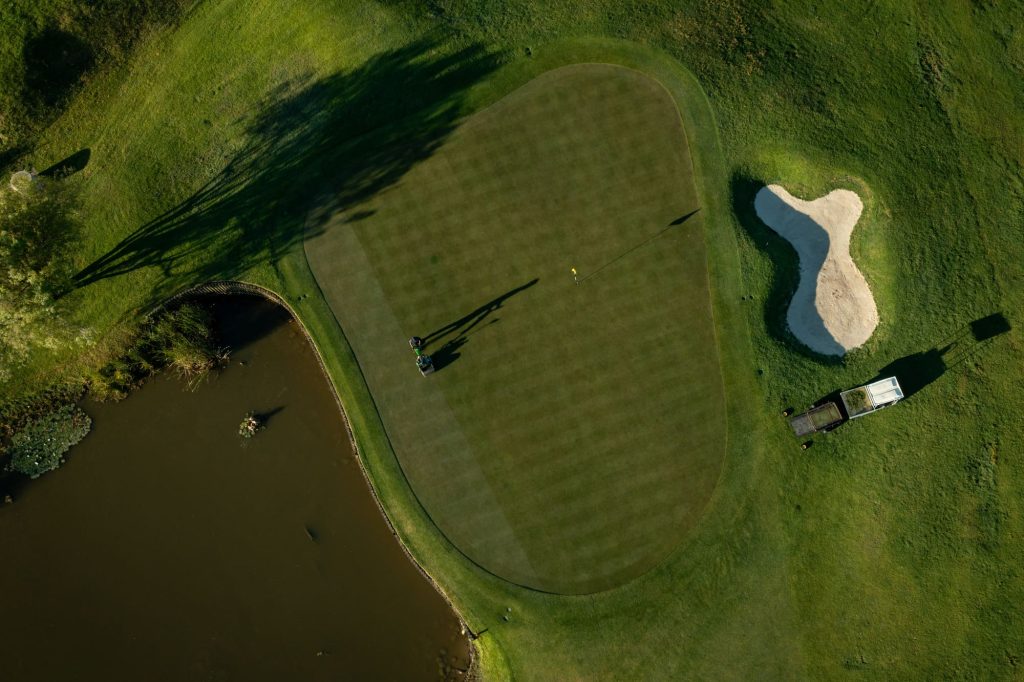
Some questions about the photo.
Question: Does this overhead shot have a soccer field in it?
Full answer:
No, no soccer field can be seen from above.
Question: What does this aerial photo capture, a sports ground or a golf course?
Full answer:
This image shows a golf course.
